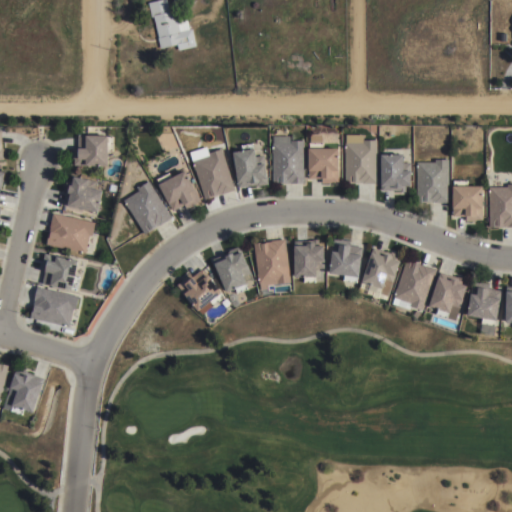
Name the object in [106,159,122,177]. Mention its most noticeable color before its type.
blue swimming pool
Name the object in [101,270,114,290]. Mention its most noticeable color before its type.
blue swimming pool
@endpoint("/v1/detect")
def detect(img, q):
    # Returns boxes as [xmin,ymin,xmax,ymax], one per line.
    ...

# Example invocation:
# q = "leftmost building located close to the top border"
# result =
[150,0,196,50]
